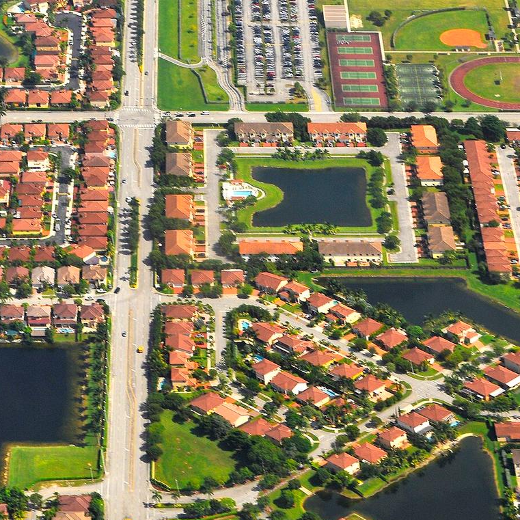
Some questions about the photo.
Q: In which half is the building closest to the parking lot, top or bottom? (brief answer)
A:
top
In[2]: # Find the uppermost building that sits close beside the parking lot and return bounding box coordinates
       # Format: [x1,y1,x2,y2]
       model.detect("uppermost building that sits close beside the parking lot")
[322,4,349,32]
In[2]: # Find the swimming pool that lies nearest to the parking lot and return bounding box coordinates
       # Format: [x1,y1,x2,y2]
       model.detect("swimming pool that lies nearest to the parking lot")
[223,183,265,200]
